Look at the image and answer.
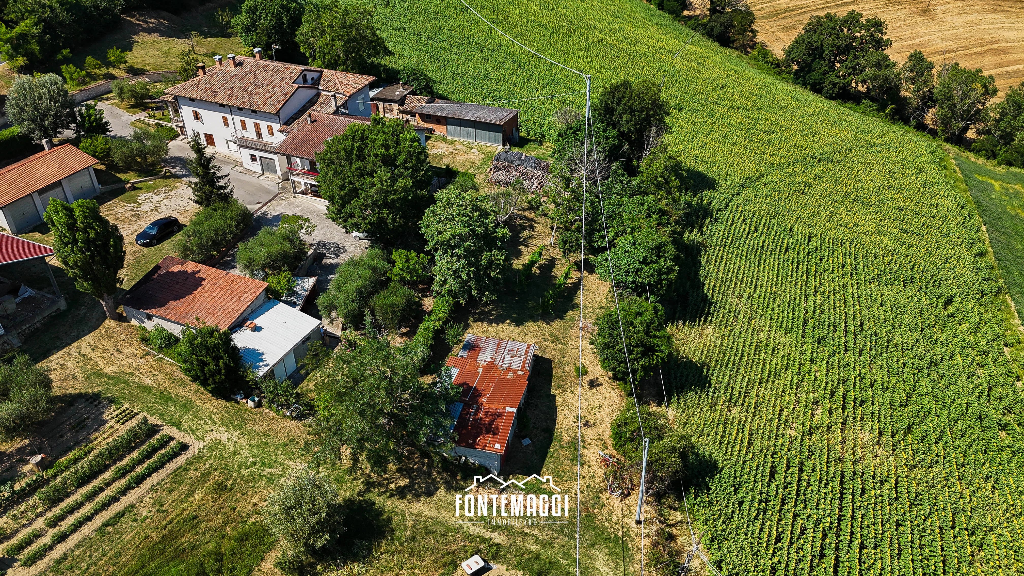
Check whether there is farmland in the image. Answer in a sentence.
Yes, farmland shows up in the scene.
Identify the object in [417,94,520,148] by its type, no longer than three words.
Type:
shed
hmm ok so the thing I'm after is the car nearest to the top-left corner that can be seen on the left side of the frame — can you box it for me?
[130,216,181,244]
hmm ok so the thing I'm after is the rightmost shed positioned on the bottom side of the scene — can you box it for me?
[437,331,537,476]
